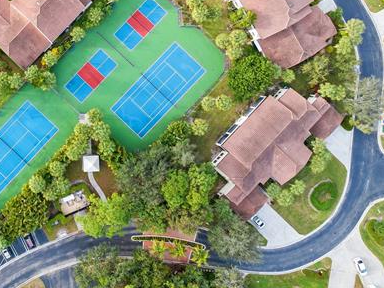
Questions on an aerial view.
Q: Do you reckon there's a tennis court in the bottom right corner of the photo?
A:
No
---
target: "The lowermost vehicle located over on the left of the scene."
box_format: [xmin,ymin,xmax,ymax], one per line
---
[2,247,15,262]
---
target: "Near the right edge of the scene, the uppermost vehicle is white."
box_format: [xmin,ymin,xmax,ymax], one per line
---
[355,258,370,278]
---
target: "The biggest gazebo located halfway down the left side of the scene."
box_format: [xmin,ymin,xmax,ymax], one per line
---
[82,155,99,172]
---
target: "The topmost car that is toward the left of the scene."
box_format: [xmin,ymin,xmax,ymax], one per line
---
[22,232,36,251]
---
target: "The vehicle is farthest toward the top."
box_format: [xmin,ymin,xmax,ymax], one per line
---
[252,216,267,230]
